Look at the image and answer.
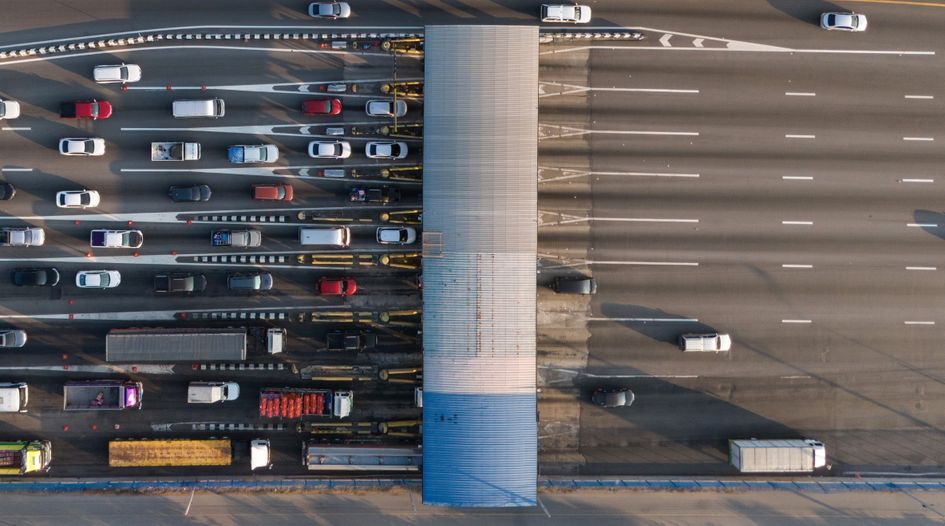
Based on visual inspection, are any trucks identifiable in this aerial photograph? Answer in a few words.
Yes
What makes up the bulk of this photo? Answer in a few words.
paved ground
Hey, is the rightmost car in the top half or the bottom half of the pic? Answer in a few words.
top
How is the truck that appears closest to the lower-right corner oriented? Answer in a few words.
from side to side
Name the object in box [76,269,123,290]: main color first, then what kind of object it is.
white car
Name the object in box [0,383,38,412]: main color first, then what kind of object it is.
white truck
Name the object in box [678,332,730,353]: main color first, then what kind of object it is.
white car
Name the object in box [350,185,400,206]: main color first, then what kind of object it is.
black truck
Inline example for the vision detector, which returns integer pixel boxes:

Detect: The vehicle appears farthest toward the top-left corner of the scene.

[0,98,22,119]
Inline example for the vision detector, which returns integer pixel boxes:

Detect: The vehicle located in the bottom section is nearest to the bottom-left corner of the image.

[0,439,59,472]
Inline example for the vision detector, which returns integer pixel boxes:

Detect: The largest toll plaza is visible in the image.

[422,24,539,507]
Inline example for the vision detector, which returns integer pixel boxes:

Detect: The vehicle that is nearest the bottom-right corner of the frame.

[727,438,830,472]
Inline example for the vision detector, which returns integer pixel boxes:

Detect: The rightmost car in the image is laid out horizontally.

[819,10,866,33]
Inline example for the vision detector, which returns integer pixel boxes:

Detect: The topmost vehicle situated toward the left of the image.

[309,0,351,21]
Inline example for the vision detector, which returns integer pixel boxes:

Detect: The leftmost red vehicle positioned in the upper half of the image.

[61,98,114,120]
